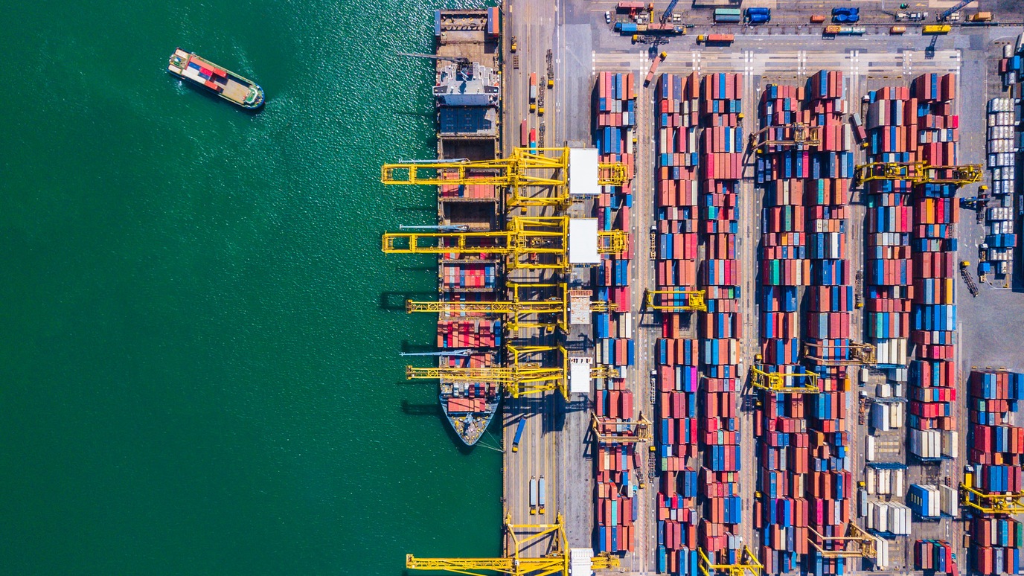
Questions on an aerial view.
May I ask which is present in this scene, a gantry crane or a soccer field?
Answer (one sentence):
The one in the frame is a gantry crane.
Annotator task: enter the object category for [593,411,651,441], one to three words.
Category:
container crane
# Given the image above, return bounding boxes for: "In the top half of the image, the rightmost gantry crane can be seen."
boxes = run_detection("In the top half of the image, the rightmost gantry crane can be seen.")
[910,163,985,191]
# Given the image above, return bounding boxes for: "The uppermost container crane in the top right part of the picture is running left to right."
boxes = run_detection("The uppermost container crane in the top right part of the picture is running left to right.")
[751,122,819,152]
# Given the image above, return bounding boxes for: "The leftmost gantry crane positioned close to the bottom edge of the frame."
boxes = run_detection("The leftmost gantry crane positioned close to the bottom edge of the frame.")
[403,507,620,576]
